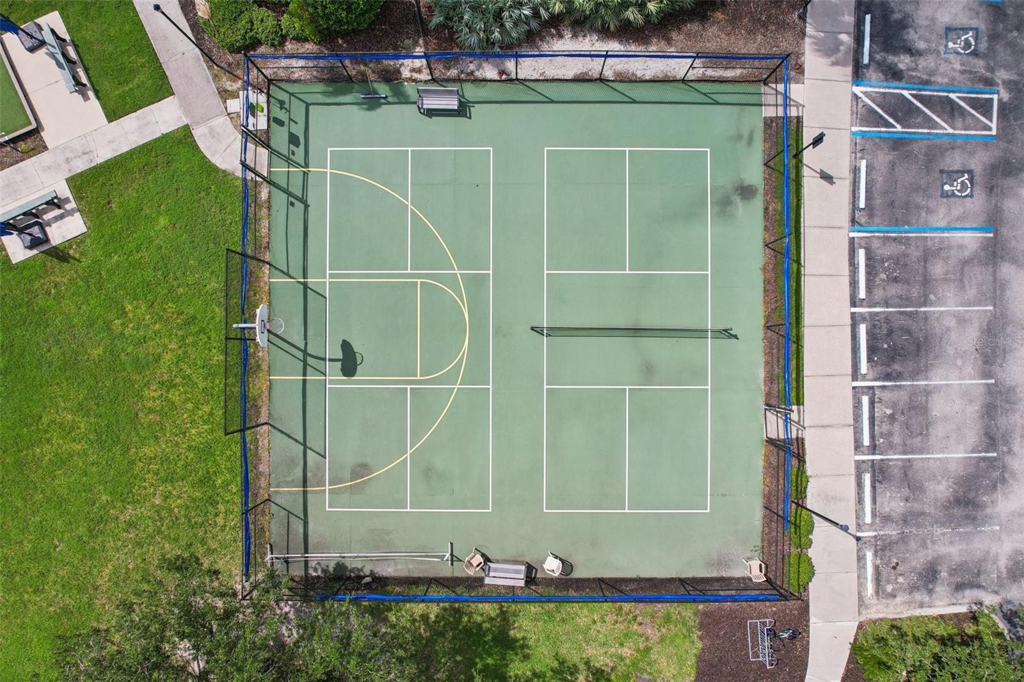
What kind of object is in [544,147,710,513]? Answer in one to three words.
sports court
